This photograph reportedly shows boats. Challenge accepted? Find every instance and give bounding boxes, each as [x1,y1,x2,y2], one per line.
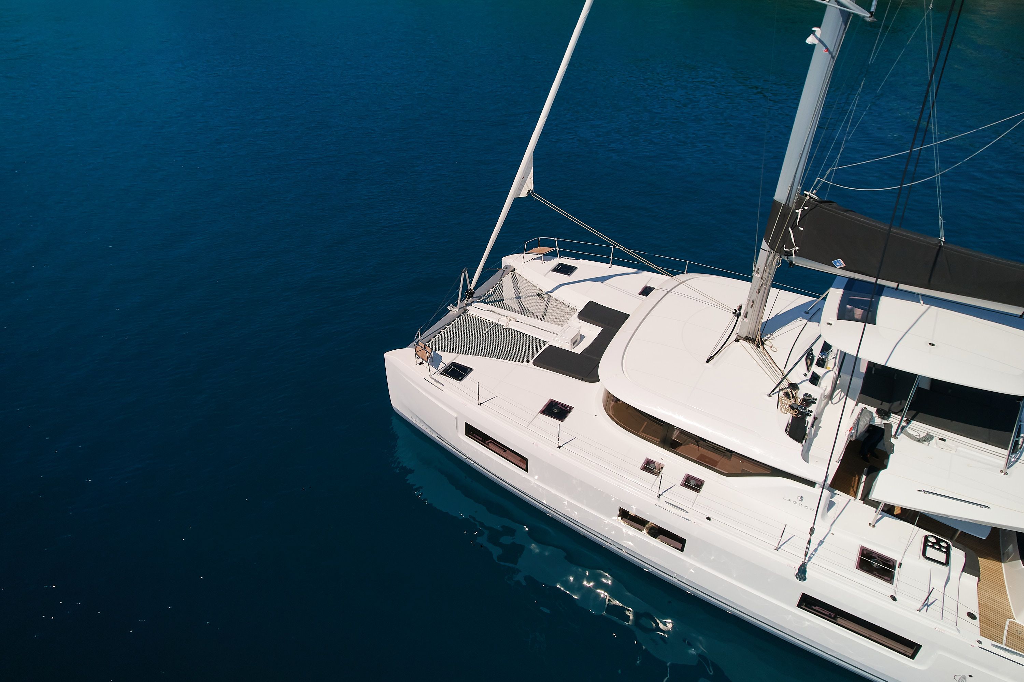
[383,0,1024,682]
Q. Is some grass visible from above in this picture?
No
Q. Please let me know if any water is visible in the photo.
Yes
